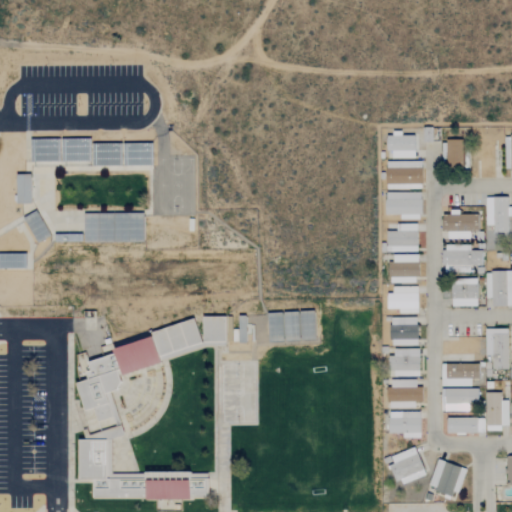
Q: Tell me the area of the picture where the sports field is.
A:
bottom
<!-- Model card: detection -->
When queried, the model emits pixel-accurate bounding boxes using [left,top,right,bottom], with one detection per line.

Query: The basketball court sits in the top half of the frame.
[154,154,197,216]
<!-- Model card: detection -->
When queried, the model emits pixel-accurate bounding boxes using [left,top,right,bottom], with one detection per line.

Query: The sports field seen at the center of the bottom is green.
[231,300,380,512]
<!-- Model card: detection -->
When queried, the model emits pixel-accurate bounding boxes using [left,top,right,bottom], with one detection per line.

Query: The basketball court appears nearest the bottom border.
[221,361,258,427]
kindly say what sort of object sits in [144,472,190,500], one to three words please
building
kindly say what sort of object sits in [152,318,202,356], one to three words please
building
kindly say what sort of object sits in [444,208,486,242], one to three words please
house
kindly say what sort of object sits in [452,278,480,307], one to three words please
house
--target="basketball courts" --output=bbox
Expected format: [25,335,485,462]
[154,154,197,216]
[221,361,258,427]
